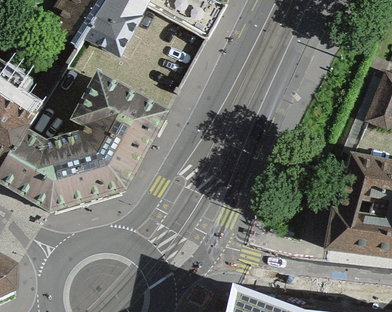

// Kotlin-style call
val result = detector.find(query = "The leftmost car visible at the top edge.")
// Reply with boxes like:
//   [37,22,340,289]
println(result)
[141,12,154,29]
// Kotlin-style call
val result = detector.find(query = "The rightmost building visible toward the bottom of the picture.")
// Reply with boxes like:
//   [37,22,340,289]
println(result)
[324,151,392,260]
